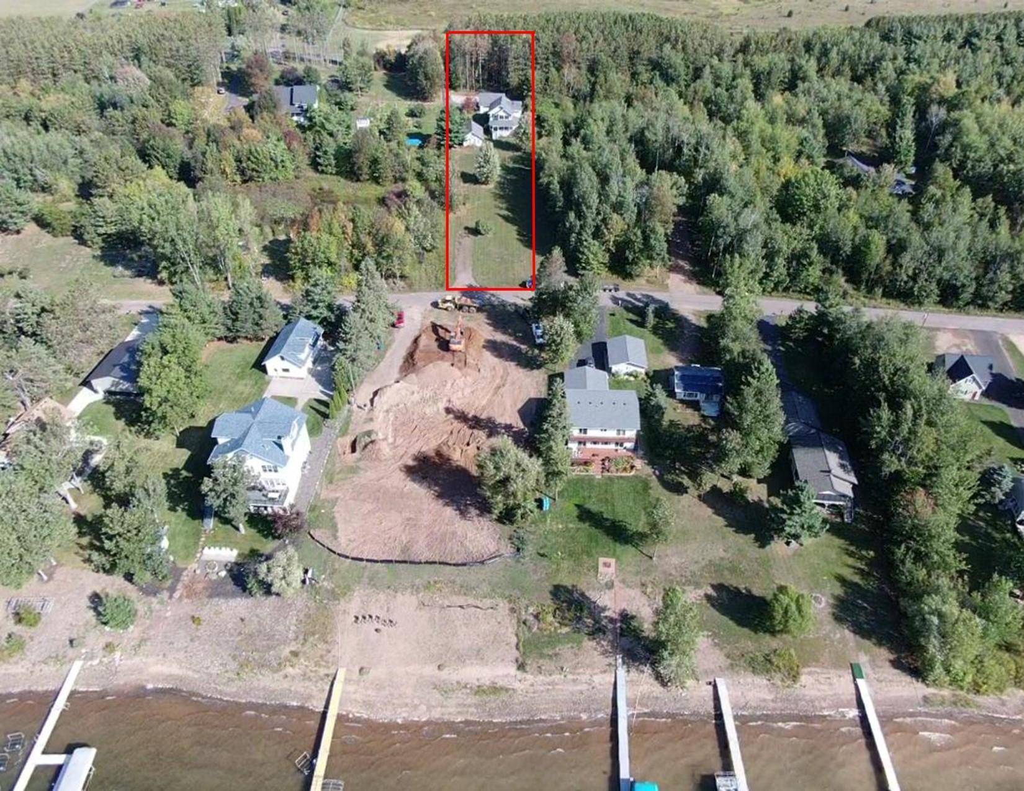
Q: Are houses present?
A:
Yes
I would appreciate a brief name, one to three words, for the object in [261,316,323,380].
building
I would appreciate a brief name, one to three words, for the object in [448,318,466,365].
work vehicle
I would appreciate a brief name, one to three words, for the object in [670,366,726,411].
house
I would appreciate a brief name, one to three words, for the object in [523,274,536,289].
vehicle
